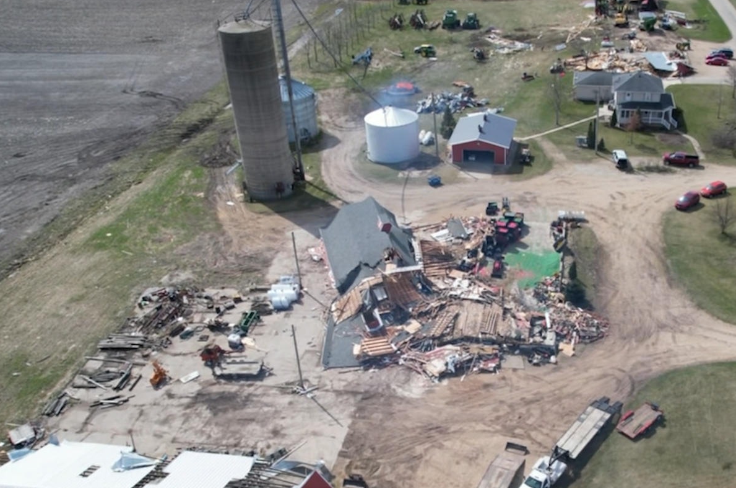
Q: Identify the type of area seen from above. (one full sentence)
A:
The area seen from above is an industrial area.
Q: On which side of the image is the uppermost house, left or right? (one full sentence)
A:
It is on the right.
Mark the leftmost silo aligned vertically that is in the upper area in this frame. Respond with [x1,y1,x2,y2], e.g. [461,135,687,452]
[214,12,294,198]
